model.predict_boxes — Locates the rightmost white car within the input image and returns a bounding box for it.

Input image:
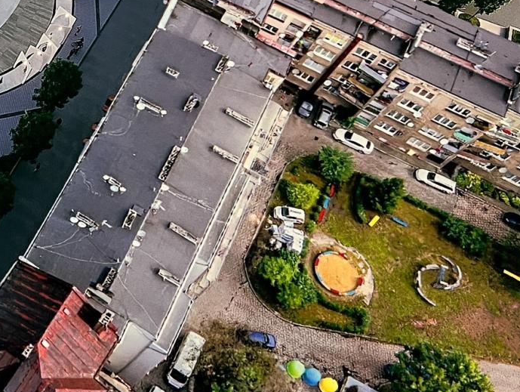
[413,168,456,197]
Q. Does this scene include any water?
No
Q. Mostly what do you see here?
buildings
